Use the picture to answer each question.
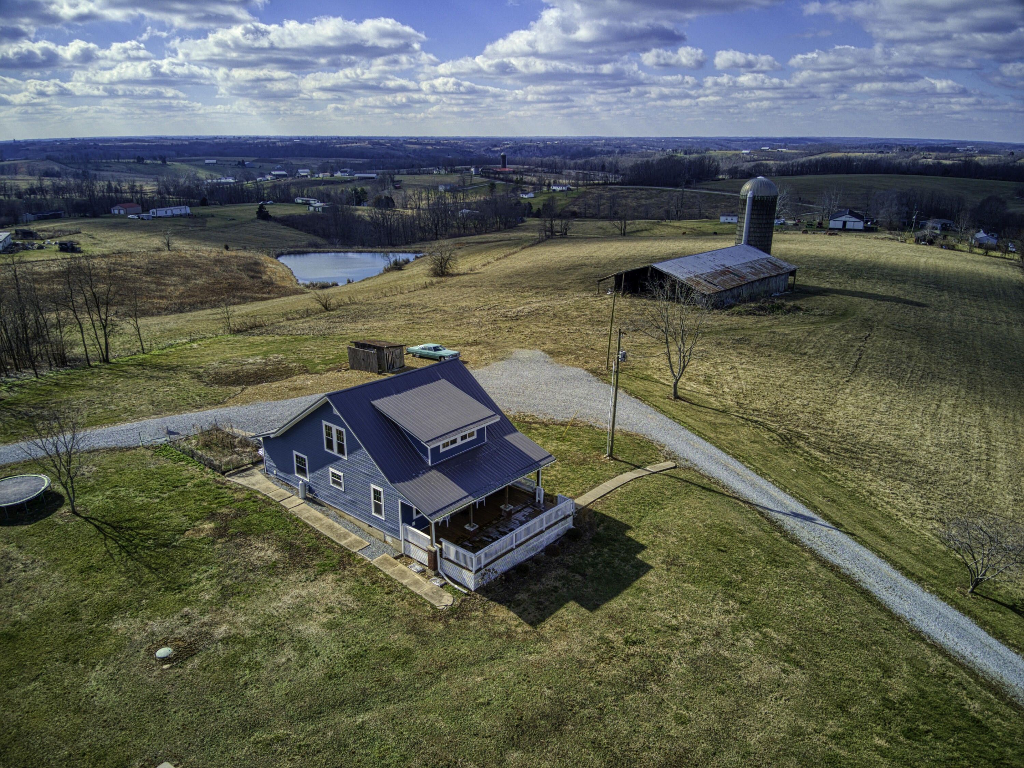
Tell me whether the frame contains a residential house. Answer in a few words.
Yes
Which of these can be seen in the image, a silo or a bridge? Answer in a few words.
silo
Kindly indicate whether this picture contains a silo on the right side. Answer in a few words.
Yes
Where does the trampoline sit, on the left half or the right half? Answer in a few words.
left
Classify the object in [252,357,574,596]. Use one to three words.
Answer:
house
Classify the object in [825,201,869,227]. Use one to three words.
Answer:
barn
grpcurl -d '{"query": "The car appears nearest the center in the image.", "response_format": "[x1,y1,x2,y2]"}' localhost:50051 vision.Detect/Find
[404,340,466,361]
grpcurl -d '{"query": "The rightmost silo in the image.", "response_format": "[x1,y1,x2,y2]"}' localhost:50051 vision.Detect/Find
[737,174,781,258]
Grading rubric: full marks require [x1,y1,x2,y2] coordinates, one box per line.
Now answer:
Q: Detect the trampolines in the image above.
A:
[0,470,52,511]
